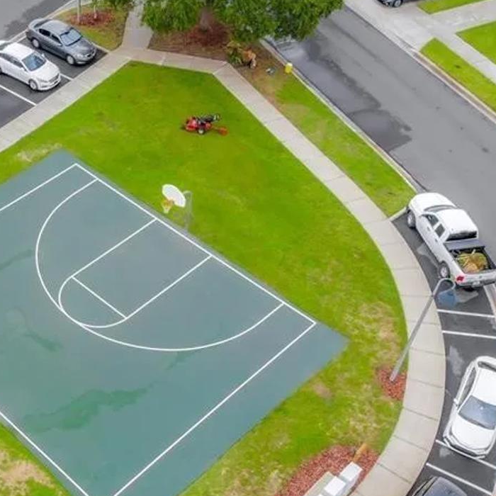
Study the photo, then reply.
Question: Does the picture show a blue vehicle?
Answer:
No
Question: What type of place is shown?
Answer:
sports ground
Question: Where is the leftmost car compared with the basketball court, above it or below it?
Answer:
above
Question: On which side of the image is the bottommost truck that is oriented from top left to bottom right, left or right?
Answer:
right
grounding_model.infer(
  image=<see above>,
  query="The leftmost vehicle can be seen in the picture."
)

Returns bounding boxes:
[0,43,58,94]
